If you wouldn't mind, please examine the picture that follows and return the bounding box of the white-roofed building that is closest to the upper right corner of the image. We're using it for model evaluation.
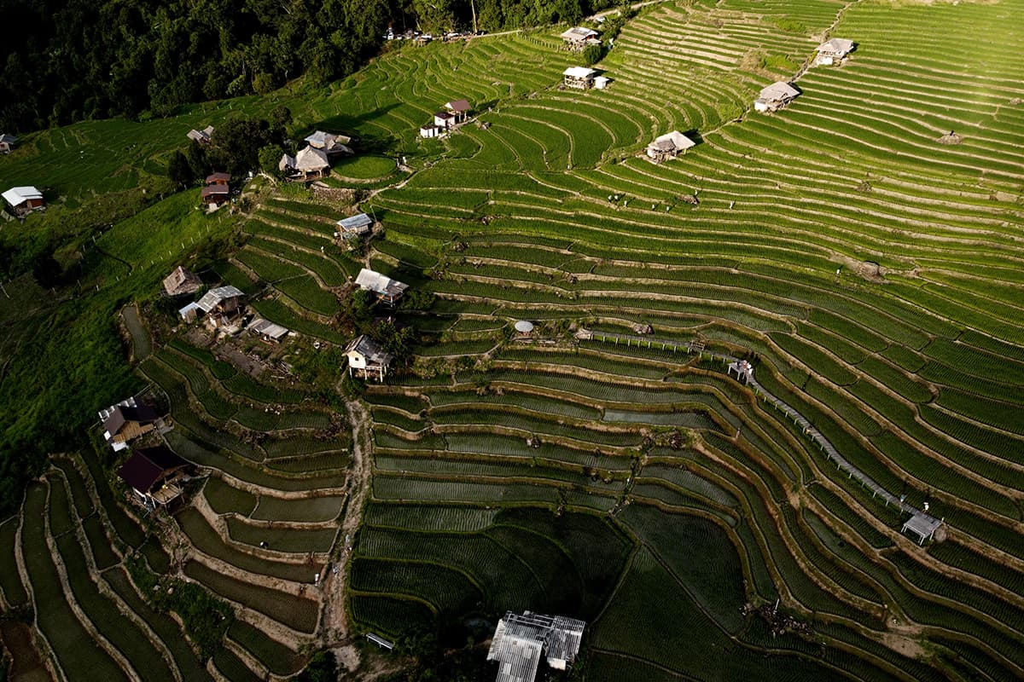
[817,38,857,72]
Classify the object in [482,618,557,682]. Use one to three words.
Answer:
house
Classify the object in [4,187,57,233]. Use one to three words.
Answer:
house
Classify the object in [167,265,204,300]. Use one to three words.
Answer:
shed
